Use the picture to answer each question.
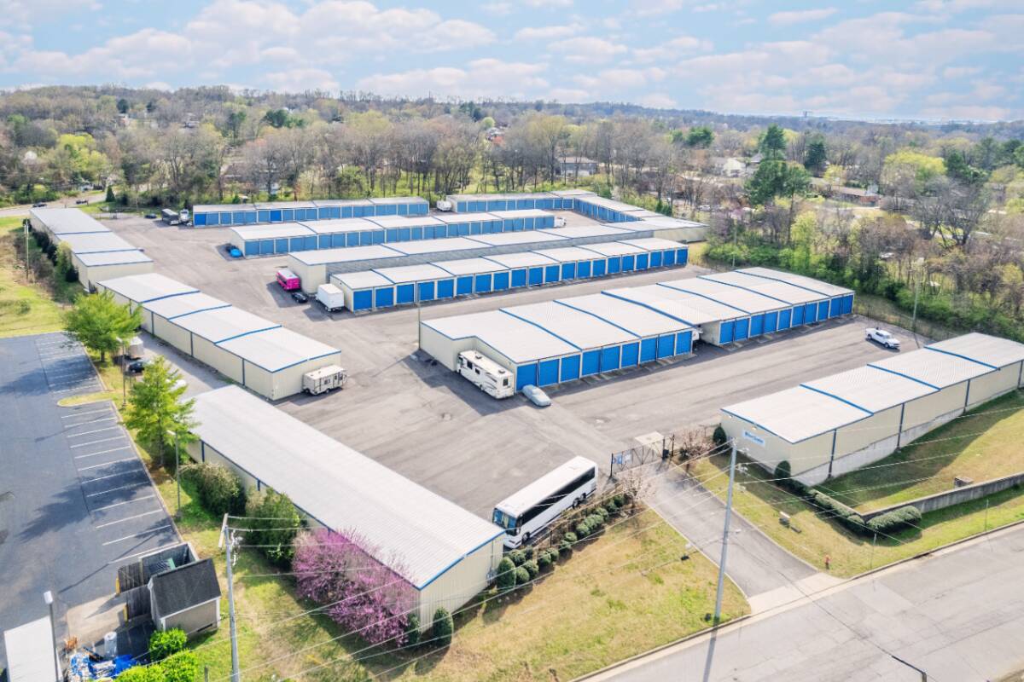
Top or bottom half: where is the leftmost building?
bottom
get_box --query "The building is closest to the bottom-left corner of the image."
[1,616,61,682]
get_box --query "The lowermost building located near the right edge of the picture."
[720,334,1024,484]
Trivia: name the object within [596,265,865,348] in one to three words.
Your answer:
building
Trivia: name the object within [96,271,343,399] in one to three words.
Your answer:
building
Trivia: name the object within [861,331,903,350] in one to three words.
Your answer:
vehicle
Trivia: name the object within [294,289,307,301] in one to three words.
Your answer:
vehicle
